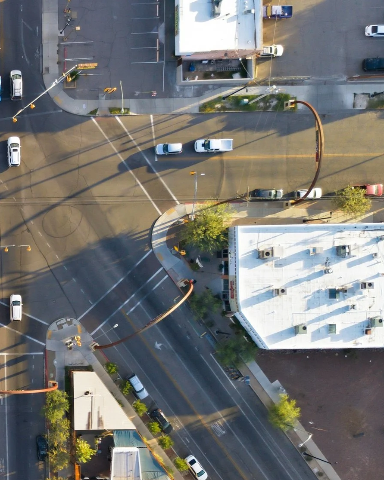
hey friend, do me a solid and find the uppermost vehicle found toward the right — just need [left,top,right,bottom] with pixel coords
[263,3,297,19]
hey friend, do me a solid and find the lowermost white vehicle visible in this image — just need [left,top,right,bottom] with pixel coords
[183,452,207,480]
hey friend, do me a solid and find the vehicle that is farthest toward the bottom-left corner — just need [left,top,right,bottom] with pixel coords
[35,433,48,461]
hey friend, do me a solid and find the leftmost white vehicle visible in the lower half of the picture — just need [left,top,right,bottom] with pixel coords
[8,293,21,321]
